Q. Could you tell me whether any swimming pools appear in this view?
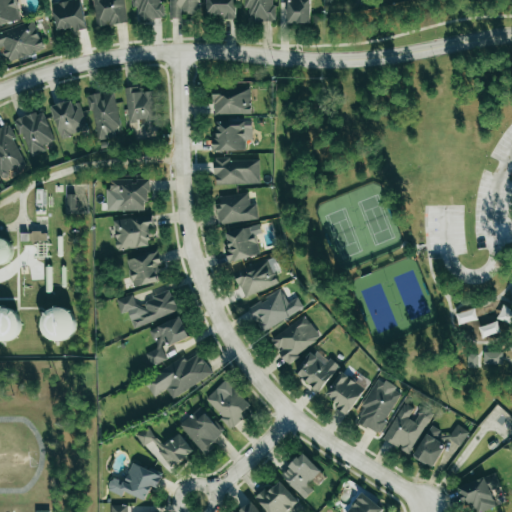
Yes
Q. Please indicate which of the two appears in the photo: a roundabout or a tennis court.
tennis court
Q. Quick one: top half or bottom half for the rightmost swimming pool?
bottom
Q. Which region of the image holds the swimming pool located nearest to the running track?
bottom left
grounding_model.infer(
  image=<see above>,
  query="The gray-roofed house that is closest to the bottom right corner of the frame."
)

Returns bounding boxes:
[456,479,502,512]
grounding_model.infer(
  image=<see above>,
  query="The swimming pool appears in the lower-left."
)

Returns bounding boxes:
[106,448,129,474]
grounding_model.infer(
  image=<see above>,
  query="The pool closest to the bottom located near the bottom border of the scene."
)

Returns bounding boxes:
[336,480,358,512]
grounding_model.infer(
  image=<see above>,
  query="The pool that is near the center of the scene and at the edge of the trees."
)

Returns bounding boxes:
[258,221,274,250]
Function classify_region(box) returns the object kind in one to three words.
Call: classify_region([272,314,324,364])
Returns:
house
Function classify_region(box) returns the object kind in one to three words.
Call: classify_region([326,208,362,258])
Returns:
tennis court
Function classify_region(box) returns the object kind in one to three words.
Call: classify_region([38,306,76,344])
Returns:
storage tank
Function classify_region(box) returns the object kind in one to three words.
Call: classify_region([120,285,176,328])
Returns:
house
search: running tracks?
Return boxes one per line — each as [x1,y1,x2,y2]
[0,417,44,494]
